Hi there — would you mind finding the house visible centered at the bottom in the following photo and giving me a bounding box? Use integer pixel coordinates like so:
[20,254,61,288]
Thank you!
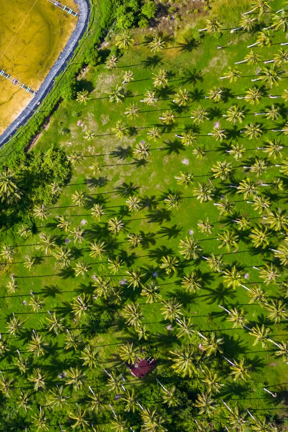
[128,354,155,379]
